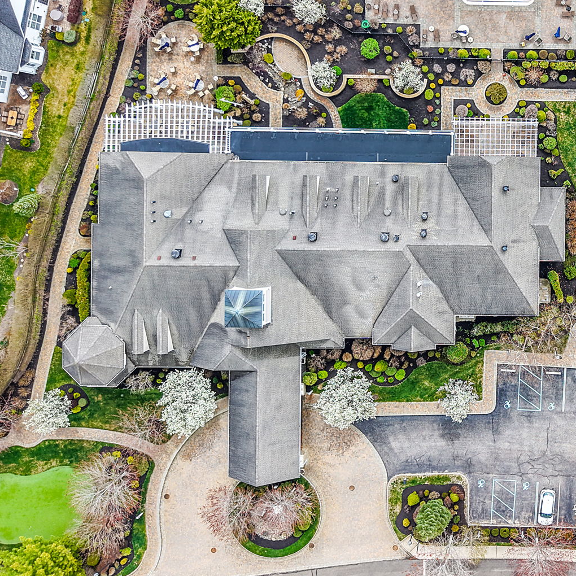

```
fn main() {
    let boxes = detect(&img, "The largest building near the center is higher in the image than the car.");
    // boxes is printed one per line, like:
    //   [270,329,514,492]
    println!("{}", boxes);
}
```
[62,125,567,487]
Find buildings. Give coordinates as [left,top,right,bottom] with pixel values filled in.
[0,0,50,124]
[62,125,567,487]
